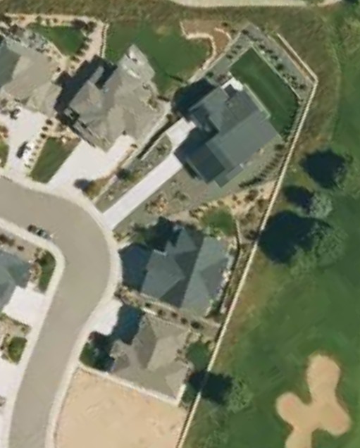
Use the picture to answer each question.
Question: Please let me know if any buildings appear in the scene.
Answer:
Yes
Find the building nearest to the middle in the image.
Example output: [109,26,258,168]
[135,221,231,316]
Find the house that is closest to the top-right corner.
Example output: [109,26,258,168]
[183,87,276,187]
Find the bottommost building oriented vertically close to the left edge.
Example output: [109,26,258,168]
[0,251,30,317]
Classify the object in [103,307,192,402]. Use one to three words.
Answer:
house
